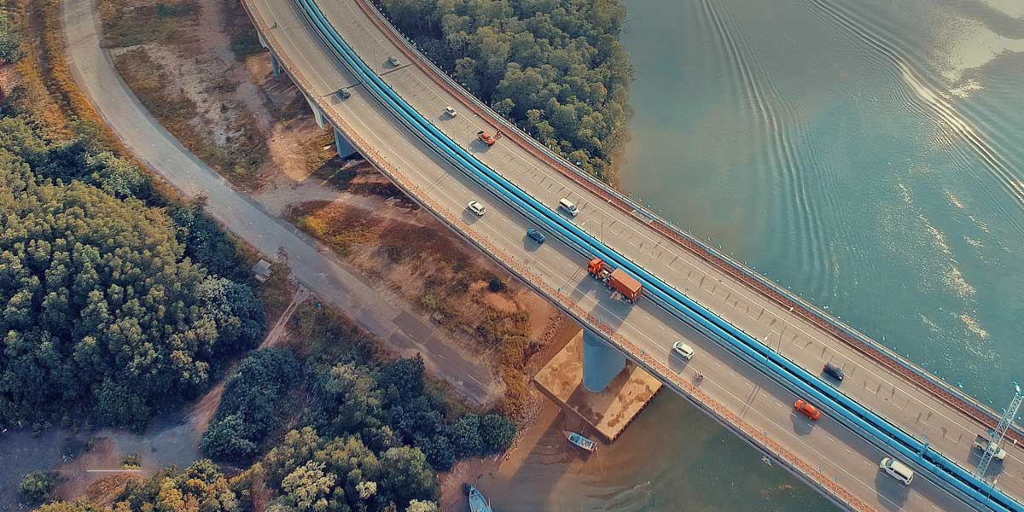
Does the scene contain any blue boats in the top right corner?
No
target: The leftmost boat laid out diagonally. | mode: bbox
[471,481,497,512]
